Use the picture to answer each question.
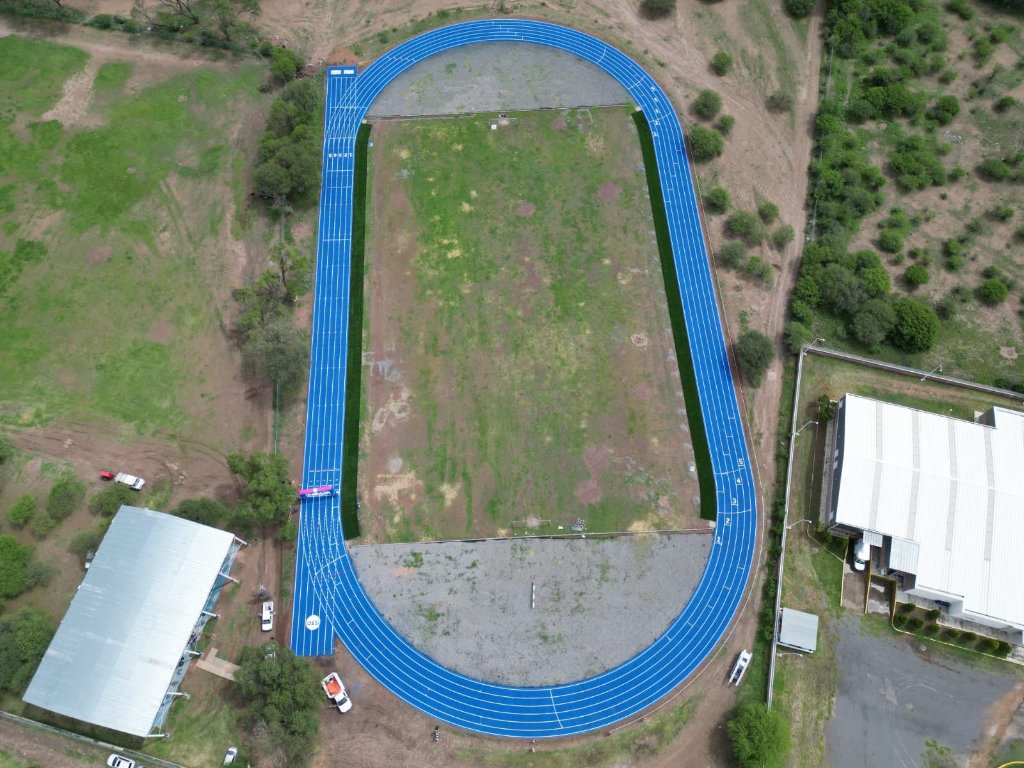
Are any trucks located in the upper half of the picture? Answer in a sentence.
No, looking in the upper half of the picture, there is no truck.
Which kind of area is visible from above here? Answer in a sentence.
The picture captures a sports ground.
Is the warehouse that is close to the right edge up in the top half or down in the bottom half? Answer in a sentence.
You can find the warehouse that is close to the right edge in the bottom half.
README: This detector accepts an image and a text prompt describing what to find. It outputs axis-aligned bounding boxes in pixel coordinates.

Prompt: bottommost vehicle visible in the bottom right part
[732,649,758,686]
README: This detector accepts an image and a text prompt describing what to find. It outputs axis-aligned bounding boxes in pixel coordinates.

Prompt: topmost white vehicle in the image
[110,470,145,488]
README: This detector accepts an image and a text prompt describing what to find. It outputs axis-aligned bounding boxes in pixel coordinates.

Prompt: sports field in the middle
[352,106,710,544]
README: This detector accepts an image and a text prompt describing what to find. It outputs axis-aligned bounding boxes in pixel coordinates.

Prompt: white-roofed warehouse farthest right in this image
[823,392,1024,651]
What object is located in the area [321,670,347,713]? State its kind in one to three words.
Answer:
truck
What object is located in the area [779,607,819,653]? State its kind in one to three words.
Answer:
shed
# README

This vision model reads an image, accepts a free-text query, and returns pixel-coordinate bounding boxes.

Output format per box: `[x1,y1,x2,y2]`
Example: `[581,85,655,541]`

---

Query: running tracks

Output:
[291,19,757,738]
